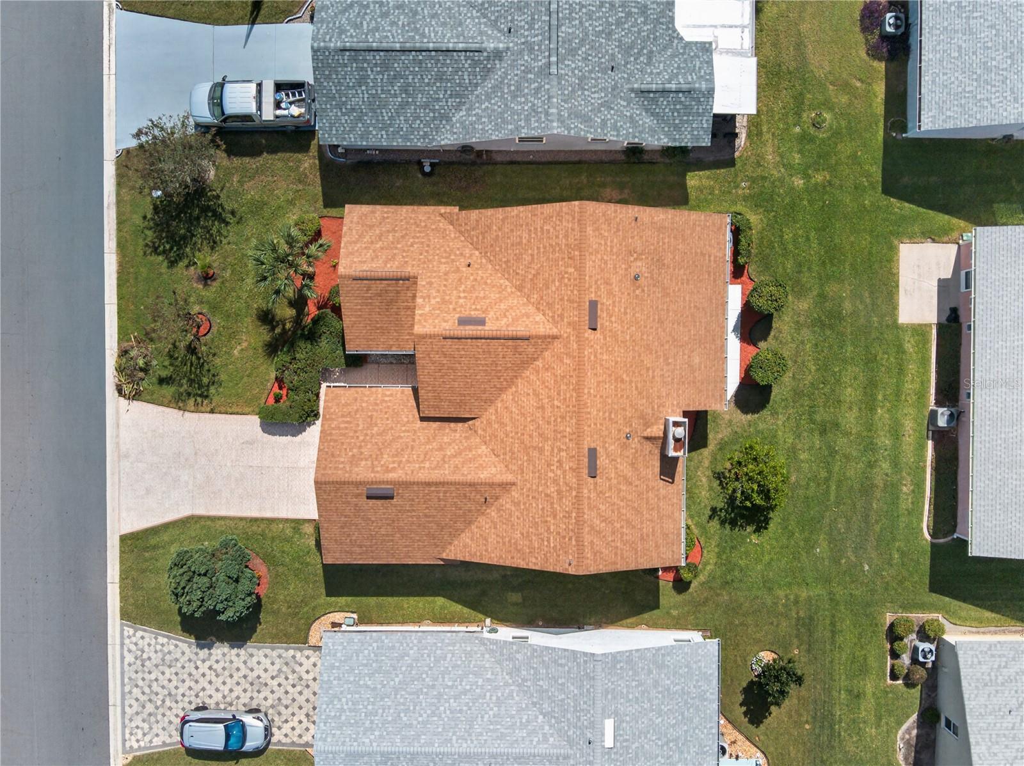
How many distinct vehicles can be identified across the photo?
2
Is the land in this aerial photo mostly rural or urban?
urban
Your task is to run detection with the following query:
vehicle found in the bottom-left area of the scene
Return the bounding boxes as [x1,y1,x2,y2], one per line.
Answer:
[179,708,274,758]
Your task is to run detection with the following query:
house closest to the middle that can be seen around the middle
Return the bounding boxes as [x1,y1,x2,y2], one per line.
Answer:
[315,200,732,574]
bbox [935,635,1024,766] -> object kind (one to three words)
house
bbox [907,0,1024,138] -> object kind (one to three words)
house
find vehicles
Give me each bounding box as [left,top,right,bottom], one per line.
[179,708,274,758]
[191,75,317,130]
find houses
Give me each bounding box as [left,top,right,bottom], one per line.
[907,0,1024,138]
[935,635,1024,766]
[315,200,732,574]
[954,224,1024,560]
[310,0,757,151]
[314,627,724,766]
